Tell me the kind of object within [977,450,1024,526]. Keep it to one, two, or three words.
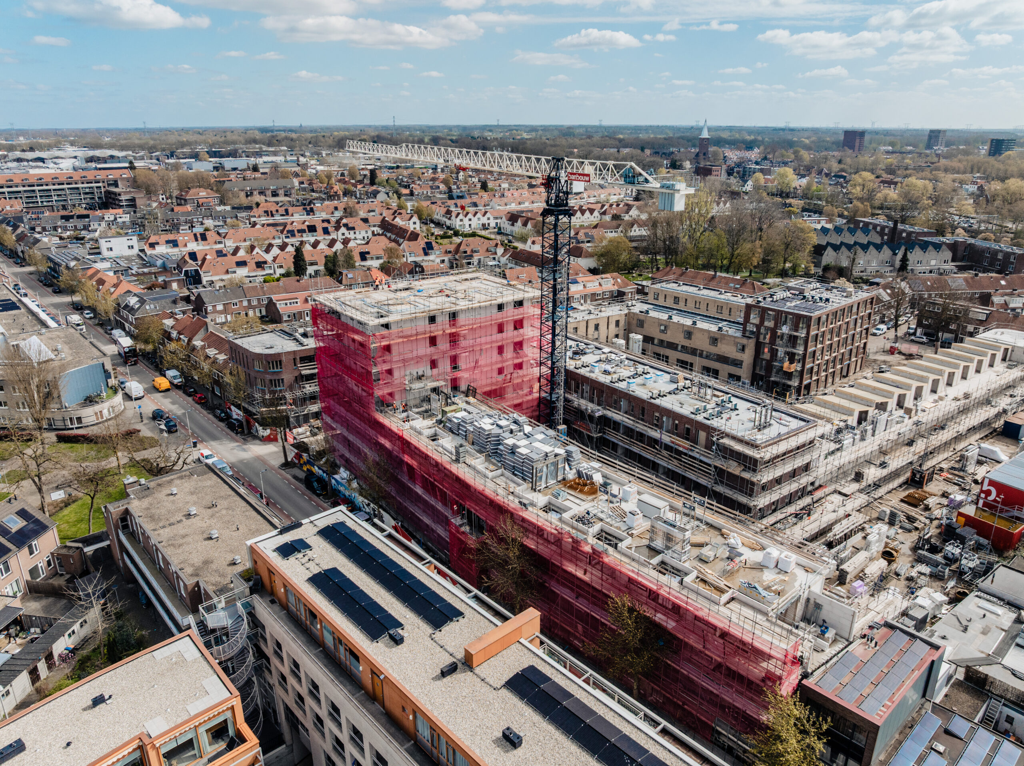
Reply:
building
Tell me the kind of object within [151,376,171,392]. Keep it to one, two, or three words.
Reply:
vehicle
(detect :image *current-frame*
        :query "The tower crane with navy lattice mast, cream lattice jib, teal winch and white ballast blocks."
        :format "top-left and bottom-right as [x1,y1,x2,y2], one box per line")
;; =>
[342,139,703,438]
